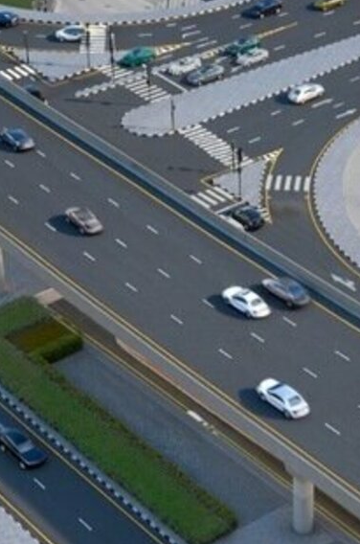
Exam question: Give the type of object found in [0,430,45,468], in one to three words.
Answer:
car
